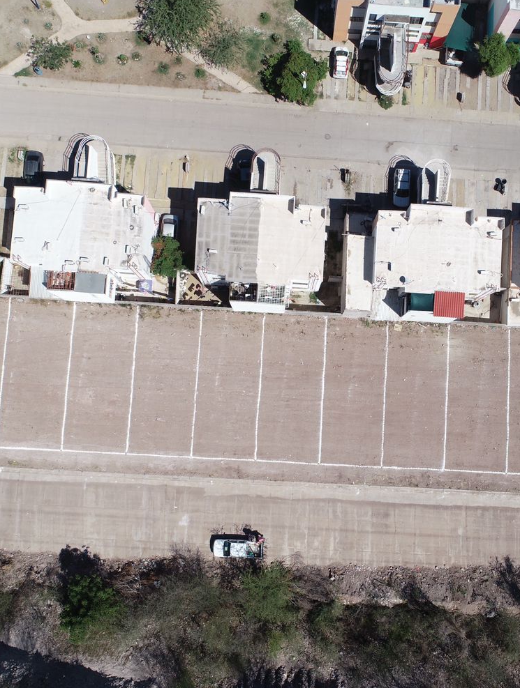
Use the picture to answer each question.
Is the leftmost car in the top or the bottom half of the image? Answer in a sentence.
Seen from above, the leftmost car lies in the top half of the view.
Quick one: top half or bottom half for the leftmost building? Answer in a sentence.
The leftmost building sits in the top half of the picture.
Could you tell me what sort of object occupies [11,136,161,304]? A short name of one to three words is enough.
building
